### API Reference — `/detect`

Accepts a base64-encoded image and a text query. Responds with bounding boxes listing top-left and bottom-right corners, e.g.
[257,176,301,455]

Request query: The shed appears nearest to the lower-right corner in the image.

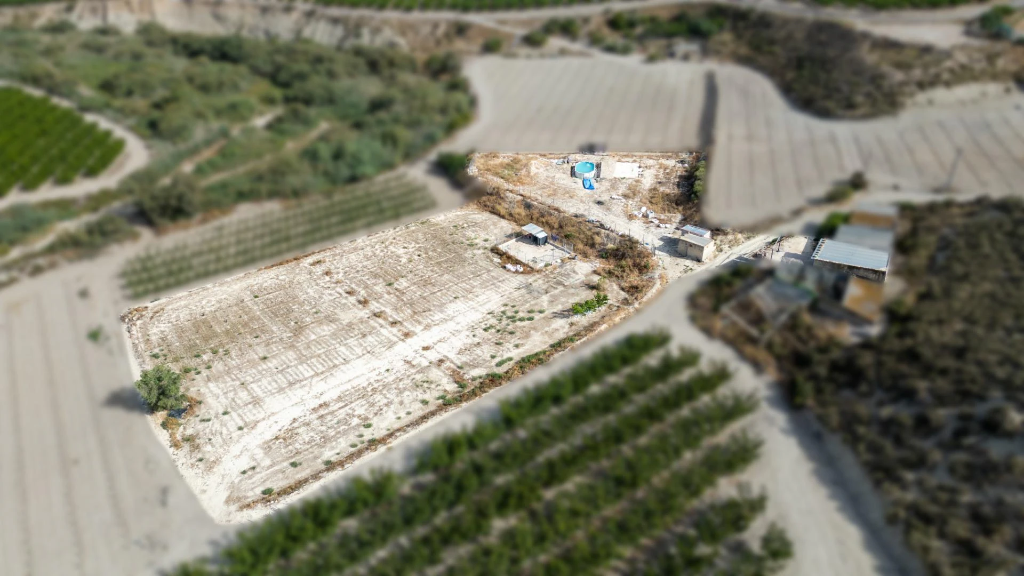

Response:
[840,284,898,332]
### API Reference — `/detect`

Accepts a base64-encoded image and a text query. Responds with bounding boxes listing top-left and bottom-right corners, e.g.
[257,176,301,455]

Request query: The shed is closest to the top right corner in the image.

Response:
[847,198,896,230]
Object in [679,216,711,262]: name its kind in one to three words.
shed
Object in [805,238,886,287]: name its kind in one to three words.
shed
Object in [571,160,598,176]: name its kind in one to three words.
swimming pool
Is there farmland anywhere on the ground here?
Yes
